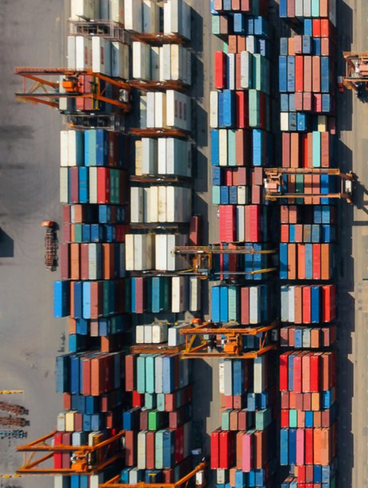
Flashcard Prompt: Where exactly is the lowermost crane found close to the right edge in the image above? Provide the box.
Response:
[256,165,360,207]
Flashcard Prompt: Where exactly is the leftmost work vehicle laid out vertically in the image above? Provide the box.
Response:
[38,219,54,270]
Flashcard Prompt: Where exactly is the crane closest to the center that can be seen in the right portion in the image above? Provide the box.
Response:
[170,243,278,281]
